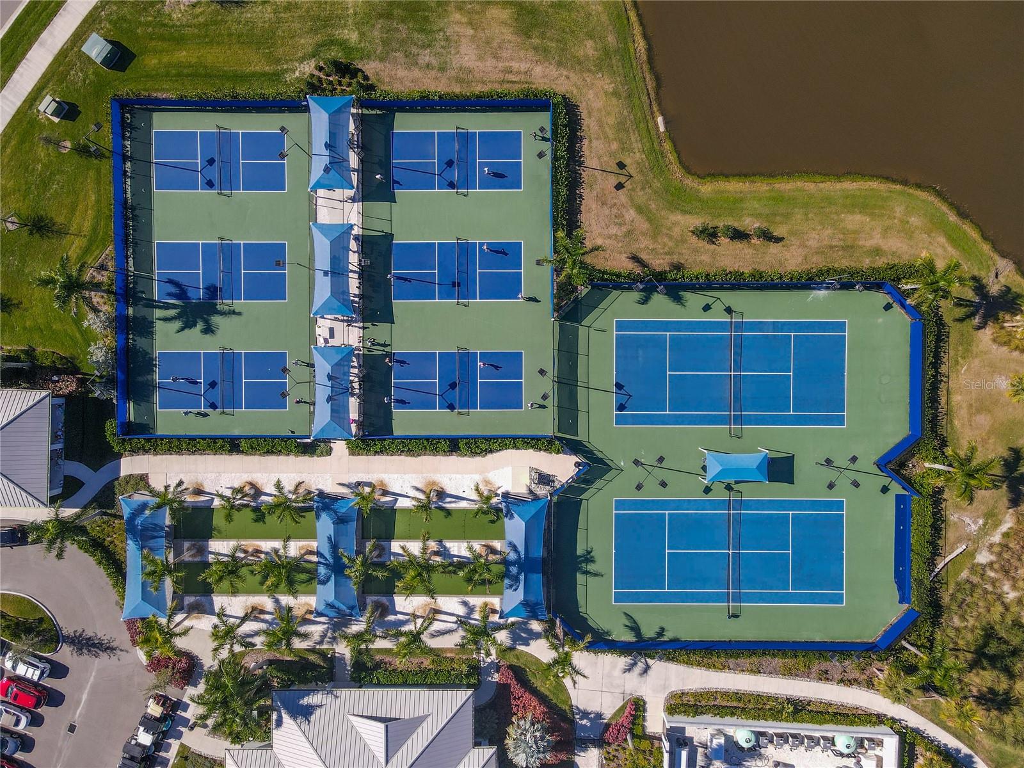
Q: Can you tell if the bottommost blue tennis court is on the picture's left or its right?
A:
right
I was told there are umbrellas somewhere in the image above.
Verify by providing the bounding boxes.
[734,728,756,750]
[834,733,856,755]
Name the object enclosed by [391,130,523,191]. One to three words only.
sports court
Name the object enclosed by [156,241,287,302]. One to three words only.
sports court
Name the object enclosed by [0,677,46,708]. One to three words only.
car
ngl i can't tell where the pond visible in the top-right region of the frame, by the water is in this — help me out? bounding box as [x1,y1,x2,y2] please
[637,0,1024,273]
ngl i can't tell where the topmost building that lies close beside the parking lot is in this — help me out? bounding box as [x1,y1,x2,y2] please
[0,388,66,509]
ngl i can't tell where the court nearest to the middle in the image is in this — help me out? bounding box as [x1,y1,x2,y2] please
[393,350,523,411]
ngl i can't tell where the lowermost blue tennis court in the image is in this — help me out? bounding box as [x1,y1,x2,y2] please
[614,499,845,605]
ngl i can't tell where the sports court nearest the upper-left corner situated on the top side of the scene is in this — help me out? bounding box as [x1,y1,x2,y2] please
[154,130,285,191]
